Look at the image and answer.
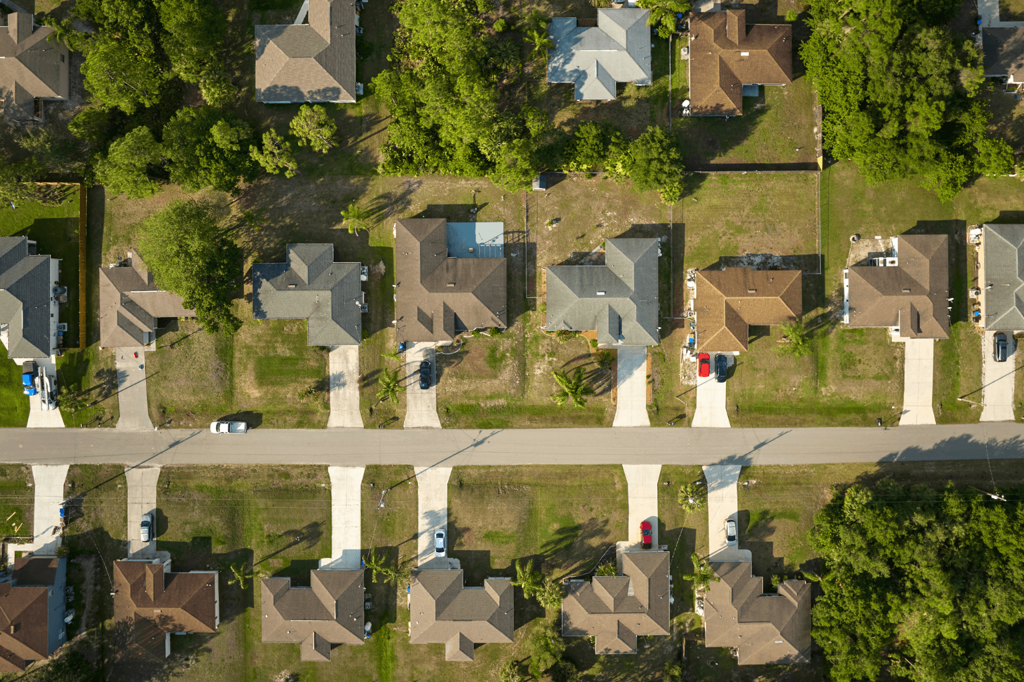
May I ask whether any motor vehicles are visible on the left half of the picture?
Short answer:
Yes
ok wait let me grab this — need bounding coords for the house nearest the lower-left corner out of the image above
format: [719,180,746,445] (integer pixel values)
[0,554,67,672]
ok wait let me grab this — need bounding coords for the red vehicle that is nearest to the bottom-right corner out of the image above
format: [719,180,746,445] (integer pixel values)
[639,521,653,550]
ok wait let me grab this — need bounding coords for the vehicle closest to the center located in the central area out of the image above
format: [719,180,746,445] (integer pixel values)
[418,361,431,389]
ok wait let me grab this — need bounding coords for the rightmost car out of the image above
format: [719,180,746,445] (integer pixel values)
[992,333,1010,362]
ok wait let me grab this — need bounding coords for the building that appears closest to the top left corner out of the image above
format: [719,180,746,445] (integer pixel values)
[0,11,77,122]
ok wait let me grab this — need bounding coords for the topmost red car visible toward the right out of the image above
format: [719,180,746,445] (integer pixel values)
[698,353,712,377]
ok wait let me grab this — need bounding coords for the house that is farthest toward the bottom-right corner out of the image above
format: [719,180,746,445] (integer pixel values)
[703,559,812,666]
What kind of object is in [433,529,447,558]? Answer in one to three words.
car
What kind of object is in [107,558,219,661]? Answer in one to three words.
house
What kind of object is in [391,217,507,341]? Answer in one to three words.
house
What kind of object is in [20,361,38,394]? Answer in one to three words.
vehicle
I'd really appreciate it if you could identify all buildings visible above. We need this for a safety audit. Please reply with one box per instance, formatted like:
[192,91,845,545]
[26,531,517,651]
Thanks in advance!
[0,11,77,122]
[391,217,507,341]
[688,9,793,117]
[547,8,651,101]
[0,554,67,672]
[262,566,365,660]
[975,26,1024,84]
[976,223,1024,330]
[546,238,661,345]
[98,246,194,348]
[252,243,362,345]
[0,236,60,359]
[254,0,357,105]
[692,266,802,351]
[844,234,954,338]
[107,558,219,661]
[534,172,548,190]
[411,566,515,660]
[561,550,670,654]
[703,559,812,666]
